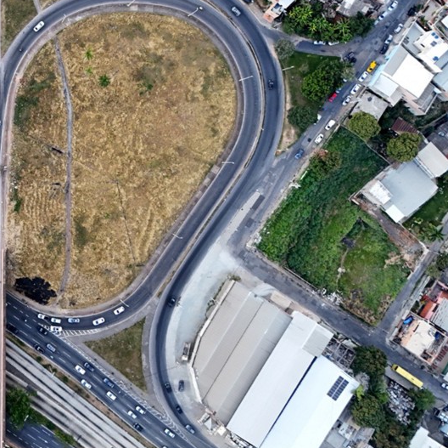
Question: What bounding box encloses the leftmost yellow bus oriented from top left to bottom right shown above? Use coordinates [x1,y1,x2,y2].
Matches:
[392,363,429,391]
